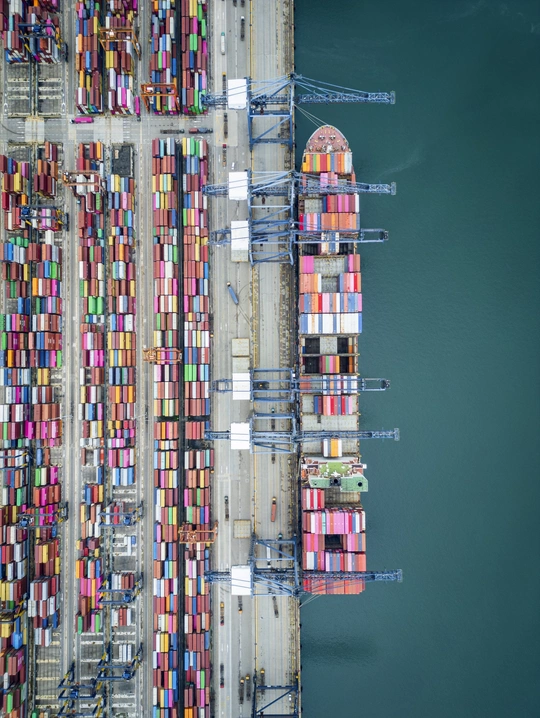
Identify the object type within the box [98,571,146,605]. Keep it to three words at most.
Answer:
container crane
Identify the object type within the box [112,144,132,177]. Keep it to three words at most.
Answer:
shed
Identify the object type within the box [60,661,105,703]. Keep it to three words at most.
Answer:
container crane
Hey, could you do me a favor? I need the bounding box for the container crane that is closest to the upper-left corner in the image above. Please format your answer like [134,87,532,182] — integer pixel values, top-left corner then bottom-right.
[20,22,72,62]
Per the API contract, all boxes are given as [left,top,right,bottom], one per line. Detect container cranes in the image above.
[203,166,396,228]
[59,687,105,718]
[142,83,187,118]
[60,661,105,703]
[98,499,146,527]
[20,22,72,62]
[98,642,146,682]
[203,69,395,149]
[179,515,221,544]
[205,409,400,452]
[0,447,34,470]
[210,218,388,272]
[205,532,402,596]
[99,27,146,67]
[60,171,109,201]
[20,204,71,233]
[209,365,390,403]
[142,346,190,367]
[98,571,146,605]
[248,675,299,718]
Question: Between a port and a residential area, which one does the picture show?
port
